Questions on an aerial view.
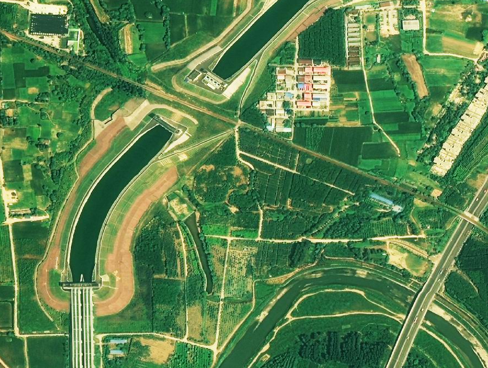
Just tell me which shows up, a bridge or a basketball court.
bridge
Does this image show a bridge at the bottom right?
Yes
